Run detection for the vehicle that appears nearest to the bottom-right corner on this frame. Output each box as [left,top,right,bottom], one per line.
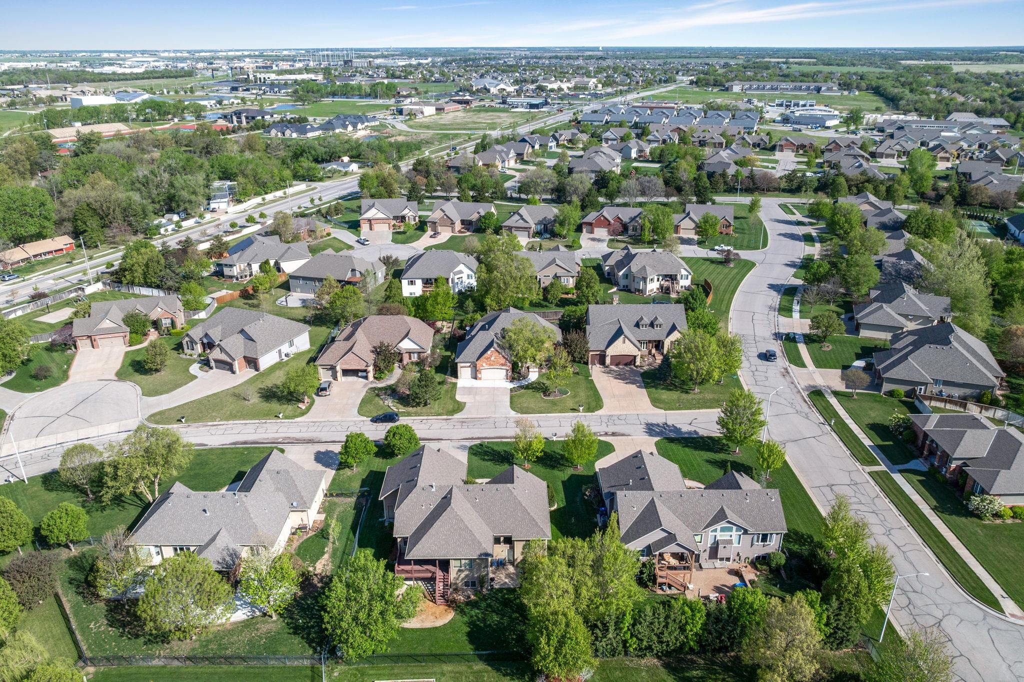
[763,349,781,361]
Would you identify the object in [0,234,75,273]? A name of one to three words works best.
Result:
house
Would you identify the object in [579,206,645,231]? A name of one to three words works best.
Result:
house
